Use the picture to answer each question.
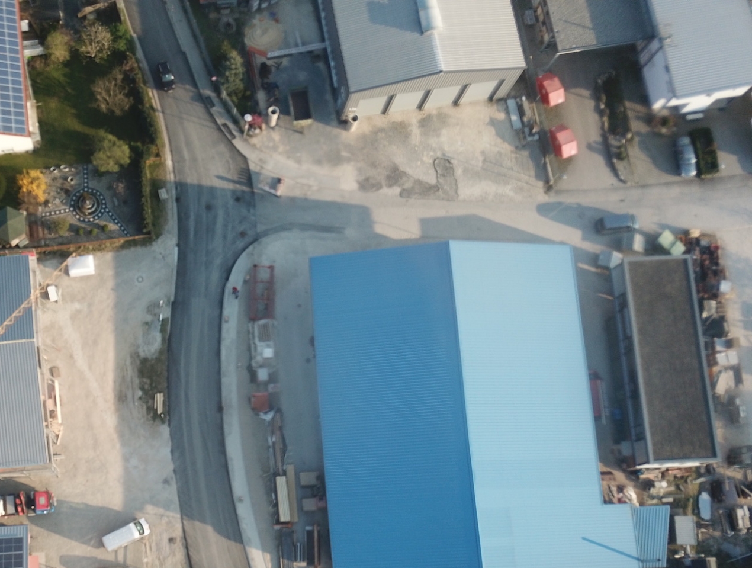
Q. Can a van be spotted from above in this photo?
Yes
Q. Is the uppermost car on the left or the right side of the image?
left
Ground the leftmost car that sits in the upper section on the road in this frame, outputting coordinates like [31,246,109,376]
[157,58,177,92]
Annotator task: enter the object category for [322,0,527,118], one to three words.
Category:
building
